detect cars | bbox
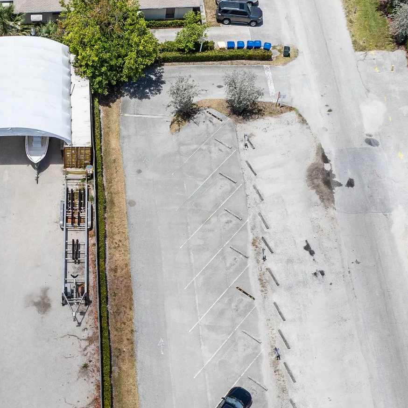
[219,386,255,408]
[214,0,258,9]
[217,2,262,30]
